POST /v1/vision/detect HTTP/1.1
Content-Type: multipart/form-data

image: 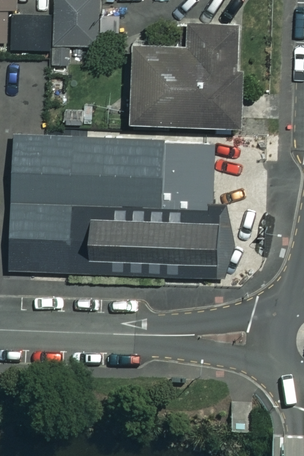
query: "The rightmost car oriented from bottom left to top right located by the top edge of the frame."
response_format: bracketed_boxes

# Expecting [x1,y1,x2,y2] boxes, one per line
[220,0,244,24]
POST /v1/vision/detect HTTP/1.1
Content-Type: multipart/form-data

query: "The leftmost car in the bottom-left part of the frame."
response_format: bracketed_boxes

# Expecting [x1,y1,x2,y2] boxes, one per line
[0,348,24,362]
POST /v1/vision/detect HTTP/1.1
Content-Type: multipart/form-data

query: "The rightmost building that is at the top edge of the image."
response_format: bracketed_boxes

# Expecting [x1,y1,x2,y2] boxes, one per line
[129,22,244,129]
